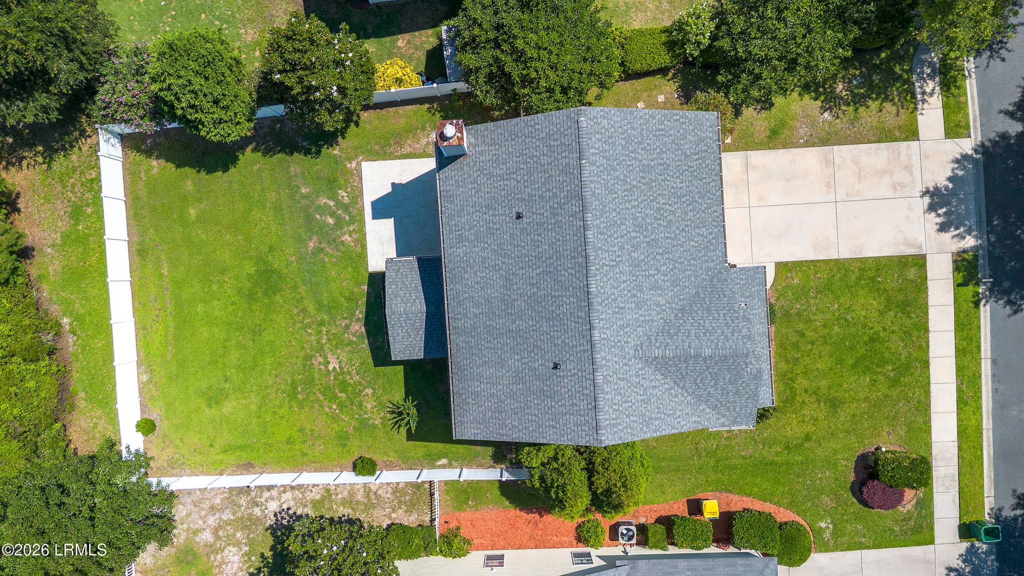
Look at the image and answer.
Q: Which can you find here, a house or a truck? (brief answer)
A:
house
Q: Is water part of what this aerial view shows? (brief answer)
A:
No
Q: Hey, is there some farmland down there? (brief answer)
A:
No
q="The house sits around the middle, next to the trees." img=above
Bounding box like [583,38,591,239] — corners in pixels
[385,105,775,447]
